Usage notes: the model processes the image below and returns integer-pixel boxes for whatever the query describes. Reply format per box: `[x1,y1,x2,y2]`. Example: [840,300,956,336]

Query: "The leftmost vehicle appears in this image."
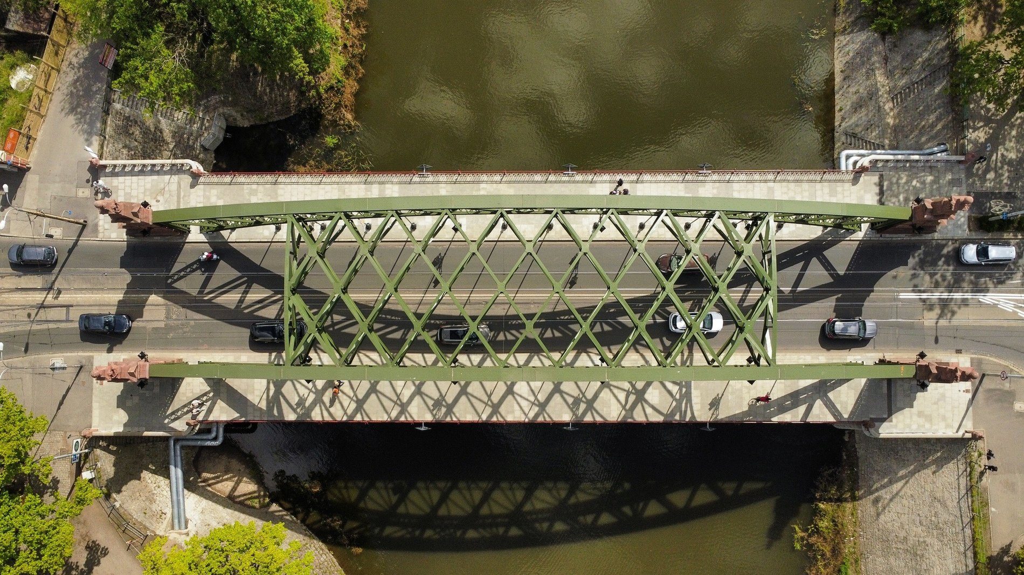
[10,242,60,268]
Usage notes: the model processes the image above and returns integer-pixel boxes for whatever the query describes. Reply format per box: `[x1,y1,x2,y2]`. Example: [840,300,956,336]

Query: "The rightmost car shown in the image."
[957,240,1018,266]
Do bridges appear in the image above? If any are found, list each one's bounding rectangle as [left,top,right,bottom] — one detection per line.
[74,153,983,441]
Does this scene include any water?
Yes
